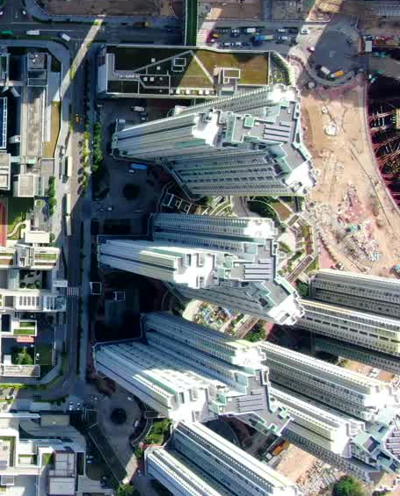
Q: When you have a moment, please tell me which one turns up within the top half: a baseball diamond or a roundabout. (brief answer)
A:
roundabout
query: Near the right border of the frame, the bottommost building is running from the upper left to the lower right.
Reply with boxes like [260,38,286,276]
[266,349,400,480]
